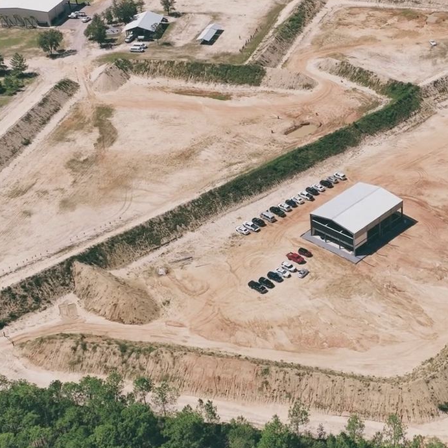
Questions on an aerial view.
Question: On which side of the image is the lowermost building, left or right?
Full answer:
It is on the right.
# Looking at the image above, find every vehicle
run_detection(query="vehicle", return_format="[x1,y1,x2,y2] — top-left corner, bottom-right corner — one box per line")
[290,196,307,204]
[242,220,262,233]
[269,205,288,217]
[258,276,276,288]
[235,226,252,236]
[298,190,317,201]
[312,184,328,192]
[251,217,268,227]
[296,245,315,258]
[277,202,293,212]
[285,251,308,264]
[70,13,82,18]
[325,177,341,185]
[279,259,299,272]
[130,47,145,54]
[275,267,293,278]
[259,209,278,222]
[247,280,270,294]
[304,186,321,195]
[333,171,349,180]
[133,43,147,49]
[319,179,335,188]
[284,199,300,209]
[429,40,439,46]
[266,271,285,283]
[294,267,313,280]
